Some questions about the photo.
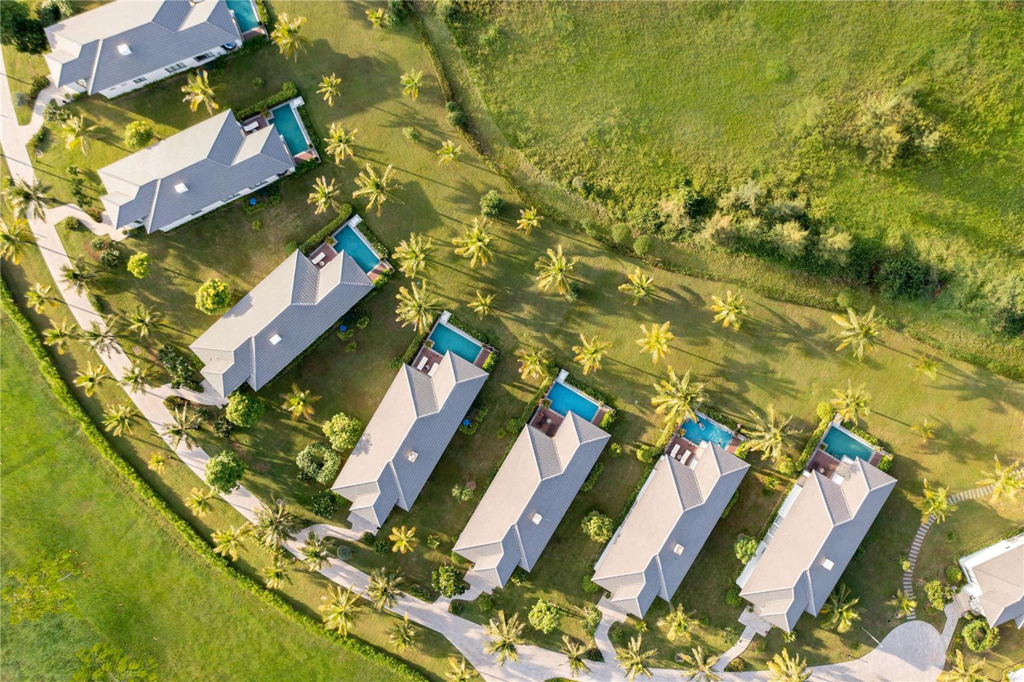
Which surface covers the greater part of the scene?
grass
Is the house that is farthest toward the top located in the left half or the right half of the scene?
left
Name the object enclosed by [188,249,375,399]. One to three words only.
house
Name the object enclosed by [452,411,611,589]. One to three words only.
house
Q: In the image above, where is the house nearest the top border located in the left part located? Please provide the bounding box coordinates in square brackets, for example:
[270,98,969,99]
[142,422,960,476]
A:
[43,0,243,99]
